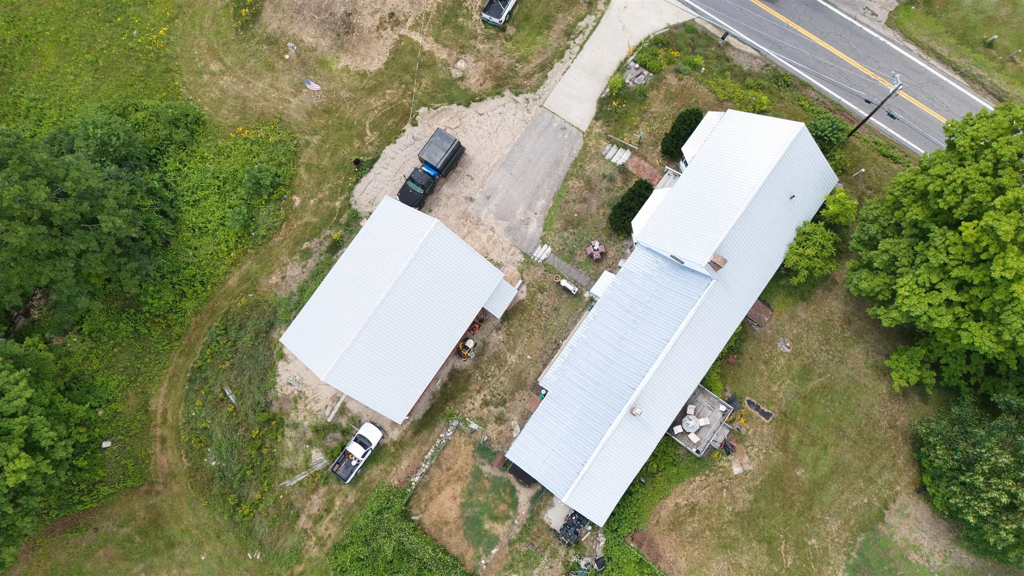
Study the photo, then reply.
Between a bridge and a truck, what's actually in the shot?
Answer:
truck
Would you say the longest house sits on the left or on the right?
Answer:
right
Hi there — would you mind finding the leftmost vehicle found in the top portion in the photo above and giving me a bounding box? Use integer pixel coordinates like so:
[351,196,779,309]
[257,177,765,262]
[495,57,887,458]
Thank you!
[399,128,463,210]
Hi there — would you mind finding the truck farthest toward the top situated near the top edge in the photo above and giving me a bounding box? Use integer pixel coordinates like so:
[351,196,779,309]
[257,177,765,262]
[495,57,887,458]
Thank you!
[483,0,513,26]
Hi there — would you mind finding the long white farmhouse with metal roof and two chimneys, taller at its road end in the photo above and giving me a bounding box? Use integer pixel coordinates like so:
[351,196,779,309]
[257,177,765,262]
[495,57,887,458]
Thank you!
[505,110,838,528]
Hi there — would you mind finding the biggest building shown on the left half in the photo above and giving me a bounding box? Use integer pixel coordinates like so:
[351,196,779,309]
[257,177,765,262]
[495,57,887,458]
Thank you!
[280,196,519,425]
